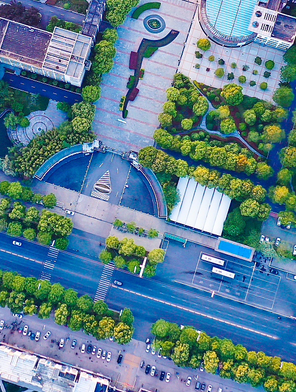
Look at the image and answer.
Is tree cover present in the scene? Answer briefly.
Yes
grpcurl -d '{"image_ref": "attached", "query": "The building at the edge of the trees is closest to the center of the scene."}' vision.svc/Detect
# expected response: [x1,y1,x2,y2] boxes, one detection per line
[139,165,167,217]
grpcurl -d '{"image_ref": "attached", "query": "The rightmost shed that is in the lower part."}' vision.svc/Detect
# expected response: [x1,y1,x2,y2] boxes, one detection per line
[215,235,256,261]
